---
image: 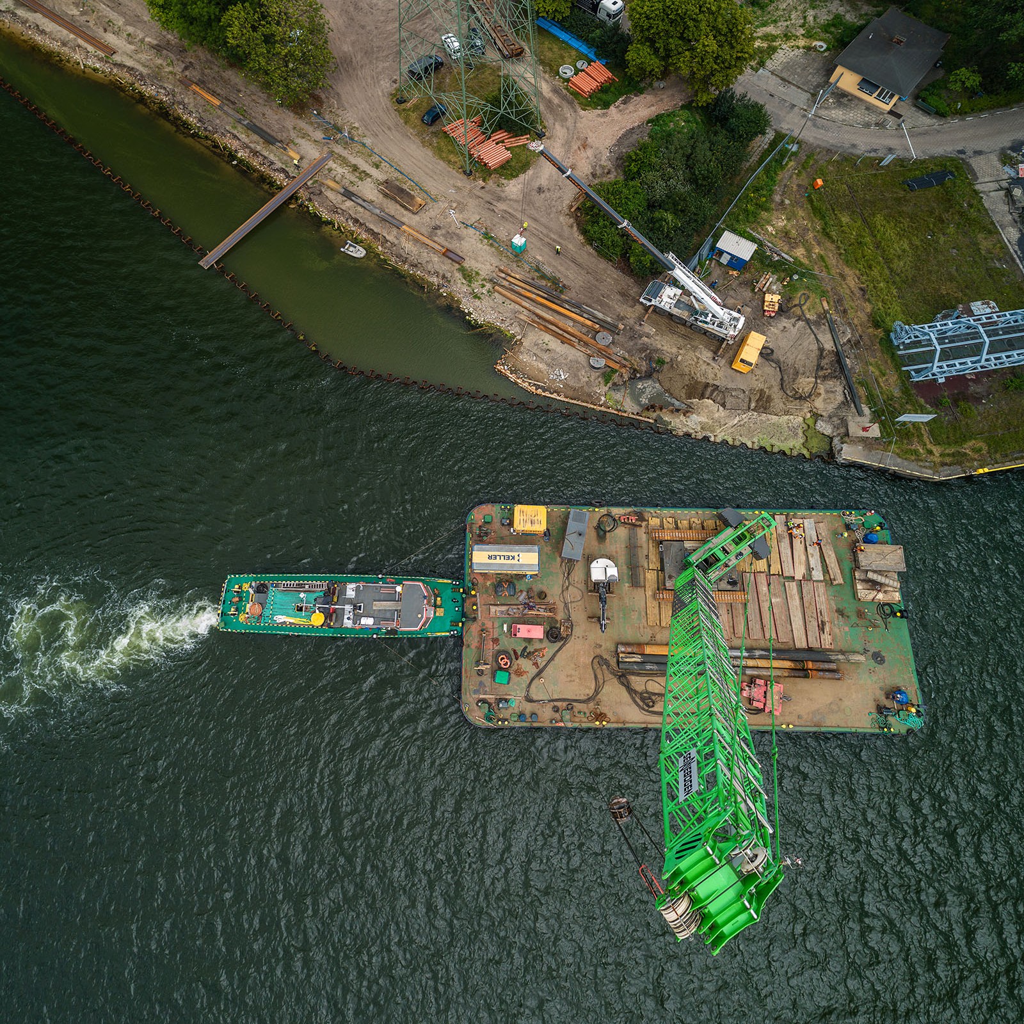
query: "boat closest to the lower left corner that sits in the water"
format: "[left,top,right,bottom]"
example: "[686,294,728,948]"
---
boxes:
[217,572,466,640]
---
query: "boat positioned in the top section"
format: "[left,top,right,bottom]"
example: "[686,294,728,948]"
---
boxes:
[340,238,368,259]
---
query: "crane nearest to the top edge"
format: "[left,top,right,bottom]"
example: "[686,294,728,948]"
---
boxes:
[517,140,752,366]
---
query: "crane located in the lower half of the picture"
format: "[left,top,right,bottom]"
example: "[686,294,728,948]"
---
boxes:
[592,507,811,953]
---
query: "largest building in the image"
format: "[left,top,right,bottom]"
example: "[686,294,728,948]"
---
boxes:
[838,1,946,121]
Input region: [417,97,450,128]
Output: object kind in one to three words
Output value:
car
